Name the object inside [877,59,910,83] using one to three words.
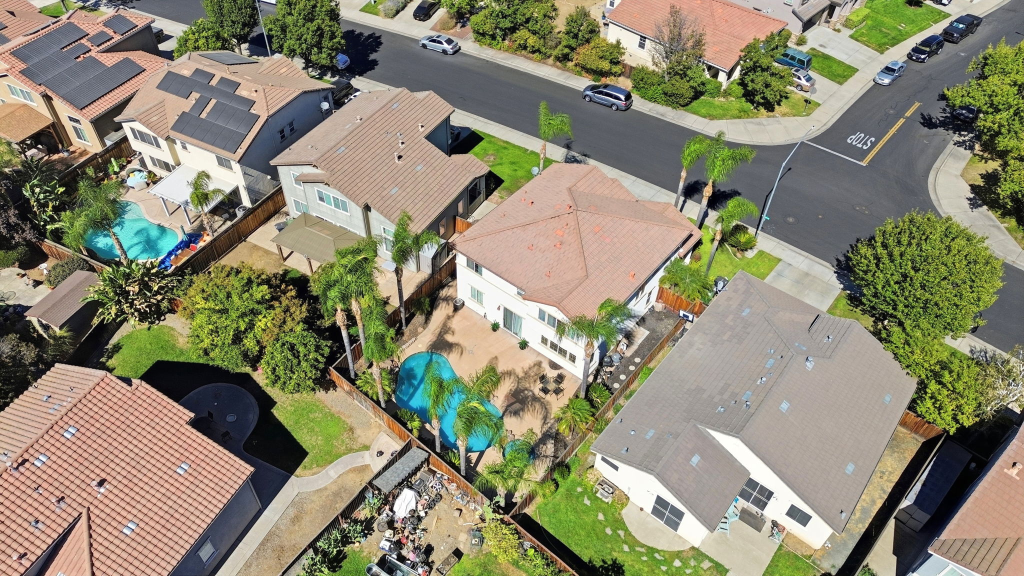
car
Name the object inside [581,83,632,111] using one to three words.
van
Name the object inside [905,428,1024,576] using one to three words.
house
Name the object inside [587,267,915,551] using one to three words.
house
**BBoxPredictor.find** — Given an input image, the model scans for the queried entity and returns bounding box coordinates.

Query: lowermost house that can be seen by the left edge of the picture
[0,360,266,576]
